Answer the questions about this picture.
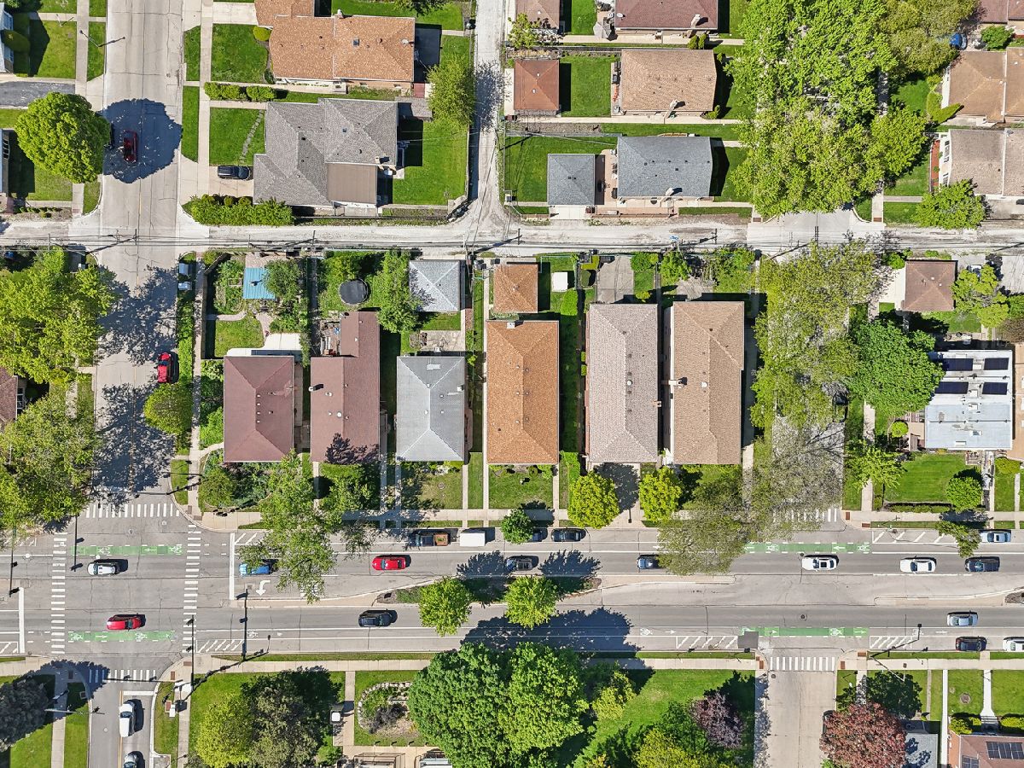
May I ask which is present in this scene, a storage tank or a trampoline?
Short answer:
trampoline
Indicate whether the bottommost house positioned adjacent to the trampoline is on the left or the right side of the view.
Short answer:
left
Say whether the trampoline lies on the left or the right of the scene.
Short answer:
left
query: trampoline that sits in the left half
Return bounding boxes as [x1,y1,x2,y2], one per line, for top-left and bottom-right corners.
[339,278,369,308]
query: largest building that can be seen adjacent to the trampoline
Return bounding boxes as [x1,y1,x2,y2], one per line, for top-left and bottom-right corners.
[310,310,383,464]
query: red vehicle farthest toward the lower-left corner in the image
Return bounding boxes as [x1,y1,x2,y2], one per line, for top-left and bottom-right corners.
[109,614,144,630]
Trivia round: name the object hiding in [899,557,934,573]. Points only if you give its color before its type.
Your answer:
white car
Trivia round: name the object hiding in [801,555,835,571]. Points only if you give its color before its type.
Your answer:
white car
